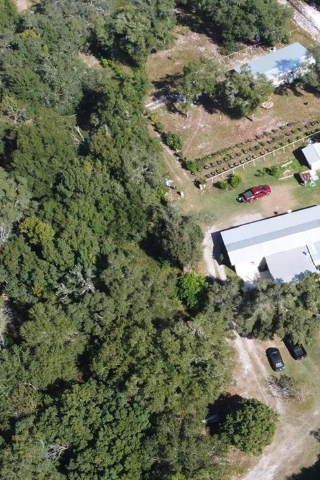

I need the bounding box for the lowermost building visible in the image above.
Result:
[221,206,320,306]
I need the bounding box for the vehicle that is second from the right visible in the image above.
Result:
[265,348,287,374]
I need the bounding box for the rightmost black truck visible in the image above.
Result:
[283,333,311,363]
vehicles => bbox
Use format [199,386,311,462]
[238,187,271,204]
[283,333,311,363]
[265,348,287,374]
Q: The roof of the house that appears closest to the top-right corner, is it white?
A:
Yes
